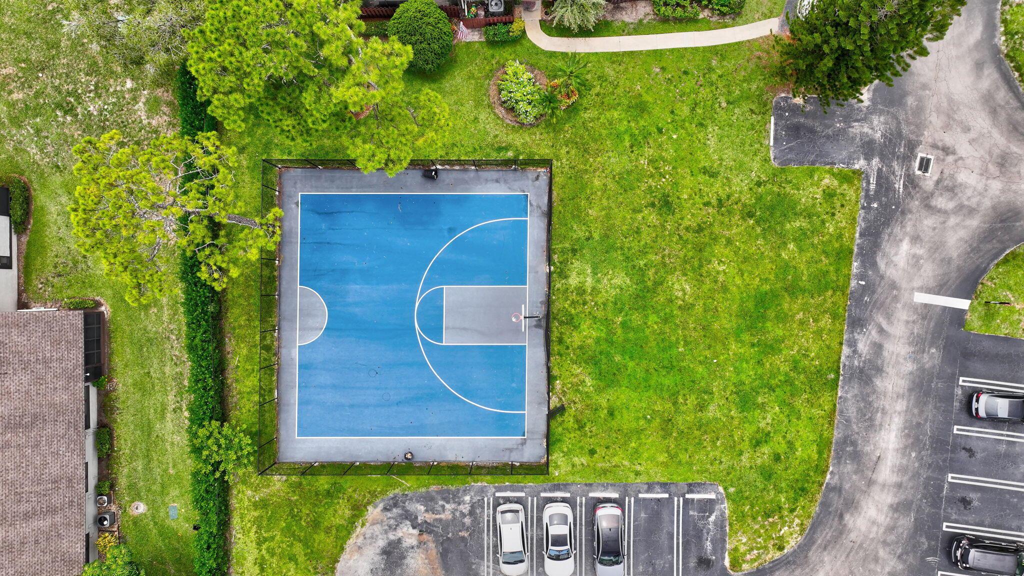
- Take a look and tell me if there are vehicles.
Yes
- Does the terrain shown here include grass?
Yes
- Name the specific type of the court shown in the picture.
basketball court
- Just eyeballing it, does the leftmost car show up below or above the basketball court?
below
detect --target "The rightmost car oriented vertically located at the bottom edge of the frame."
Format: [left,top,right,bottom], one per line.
[592,502,629,576]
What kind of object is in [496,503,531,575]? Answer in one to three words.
car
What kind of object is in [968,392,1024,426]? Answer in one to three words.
car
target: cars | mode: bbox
[496,503,531,575]
[541,502,578,576]
[948,537,1024,576]
[968,392,1024,426]
[592,502,629,576]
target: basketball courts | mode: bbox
[276,168,549,463]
